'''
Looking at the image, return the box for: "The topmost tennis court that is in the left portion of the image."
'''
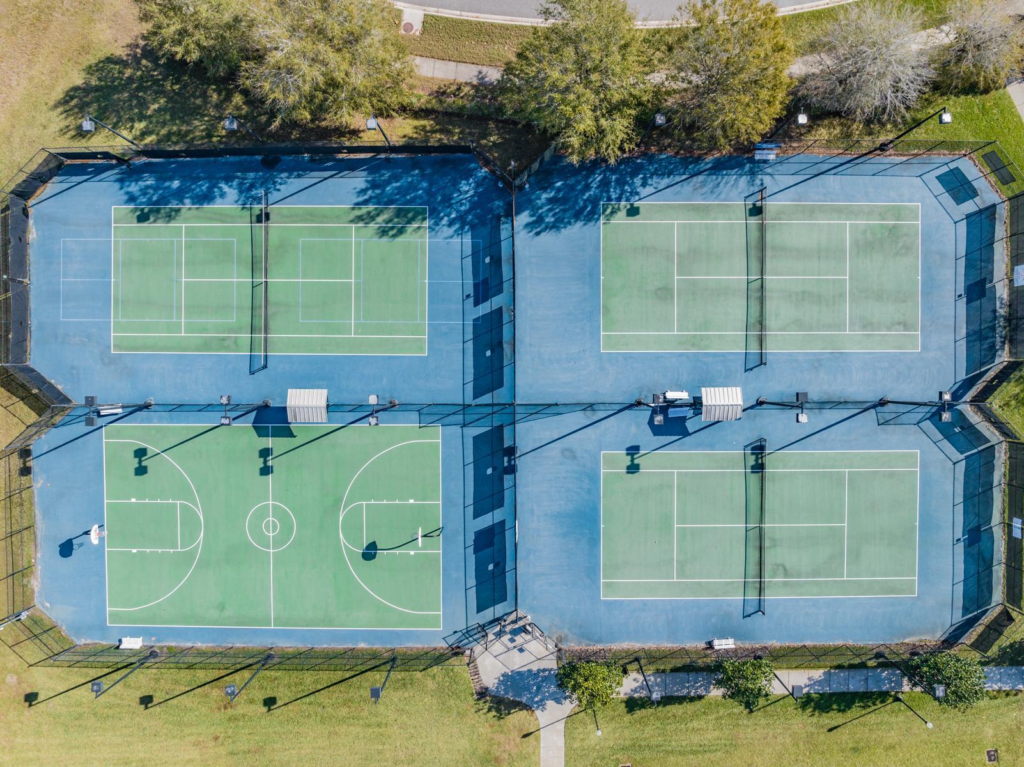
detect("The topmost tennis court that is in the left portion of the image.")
[31,156,514,404]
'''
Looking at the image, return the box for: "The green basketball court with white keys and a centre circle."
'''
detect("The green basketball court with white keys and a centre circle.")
[34,404,515,646]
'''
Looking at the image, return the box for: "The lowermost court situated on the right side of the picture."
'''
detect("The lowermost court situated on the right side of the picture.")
[514,404,1002,645]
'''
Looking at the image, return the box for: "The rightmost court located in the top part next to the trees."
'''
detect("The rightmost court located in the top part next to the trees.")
[514,155,1004,404]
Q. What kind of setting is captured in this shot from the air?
sports ground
